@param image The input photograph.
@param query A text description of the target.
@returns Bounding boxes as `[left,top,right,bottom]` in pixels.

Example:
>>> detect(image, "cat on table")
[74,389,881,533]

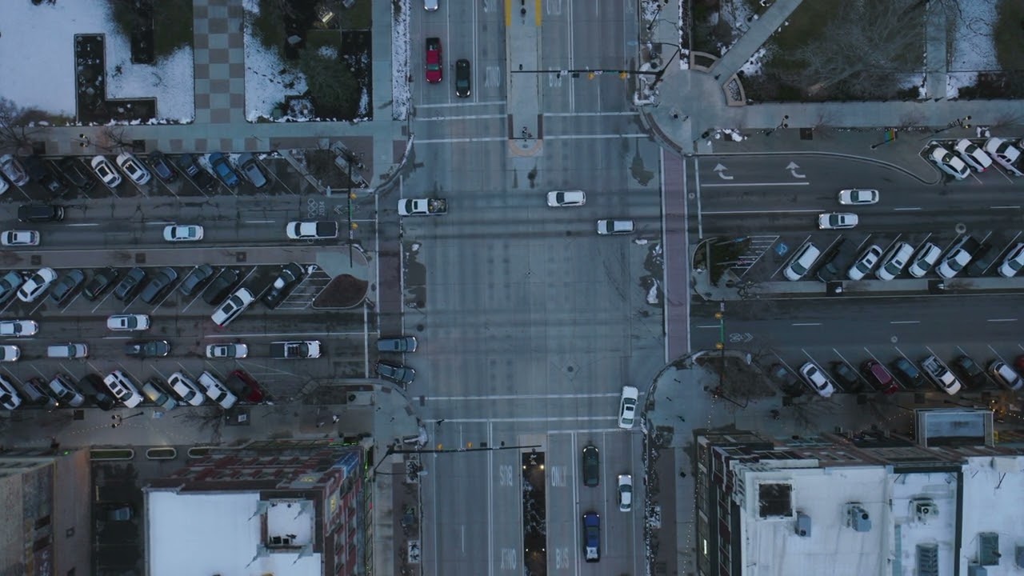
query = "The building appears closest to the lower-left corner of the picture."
[0,445,90,576]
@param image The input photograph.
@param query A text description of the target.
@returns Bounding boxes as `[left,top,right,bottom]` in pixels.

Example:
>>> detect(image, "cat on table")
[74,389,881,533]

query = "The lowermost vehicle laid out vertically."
[582,512,602,562]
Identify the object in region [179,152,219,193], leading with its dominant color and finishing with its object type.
black truck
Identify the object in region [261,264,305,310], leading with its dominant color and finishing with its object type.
black truck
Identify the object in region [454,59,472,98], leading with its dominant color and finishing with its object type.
black car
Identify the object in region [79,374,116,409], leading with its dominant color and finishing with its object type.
black car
